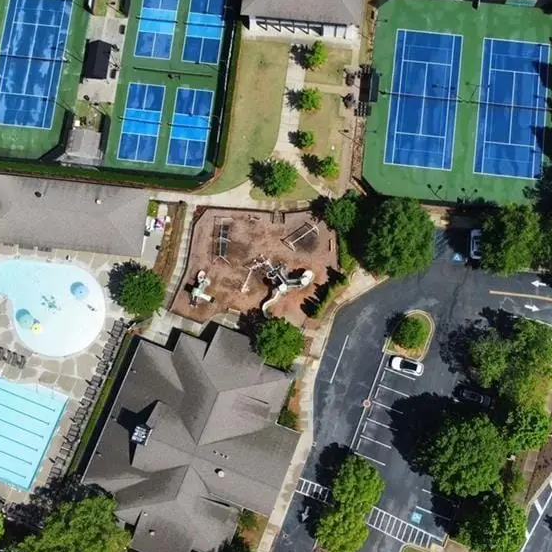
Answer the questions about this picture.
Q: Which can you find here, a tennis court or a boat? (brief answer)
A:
tennis court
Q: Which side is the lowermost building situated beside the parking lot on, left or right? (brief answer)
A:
left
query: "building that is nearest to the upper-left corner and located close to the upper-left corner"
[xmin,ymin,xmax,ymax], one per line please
[83,40,115,84]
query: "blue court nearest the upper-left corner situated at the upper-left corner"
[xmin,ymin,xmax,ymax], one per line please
[0,0,74,129]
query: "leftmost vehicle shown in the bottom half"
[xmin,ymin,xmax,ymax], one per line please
[390,353,424,376]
